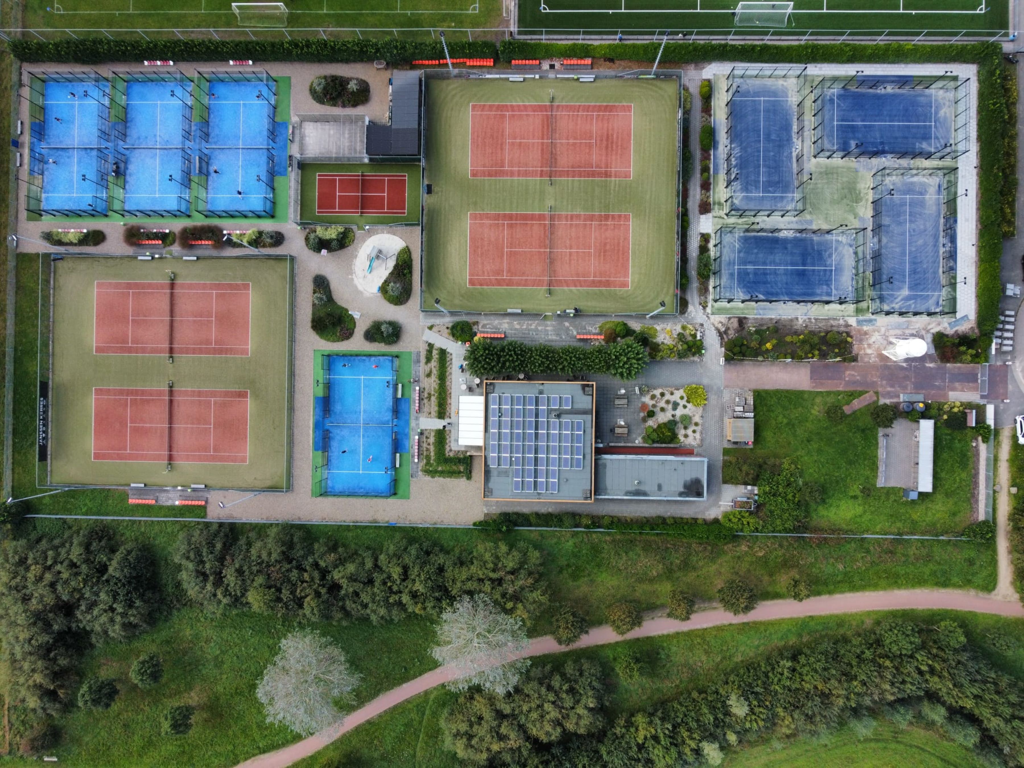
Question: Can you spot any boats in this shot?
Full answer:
No, this view has no boat in it.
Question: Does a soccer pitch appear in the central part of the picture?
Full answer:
No, I can find no soccer pitch in the central part of the picture.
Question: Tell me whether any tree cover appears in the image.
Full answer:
Yes, some tree cover is visible.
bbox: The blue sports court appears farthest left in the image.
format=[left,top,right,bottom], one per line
[13,70,111,217]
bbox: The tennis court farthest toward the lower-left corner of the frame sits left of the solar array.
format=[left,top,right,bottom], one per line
[92,382,249,469]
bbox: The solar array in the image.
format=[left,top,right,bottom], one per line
[490,394,584,492]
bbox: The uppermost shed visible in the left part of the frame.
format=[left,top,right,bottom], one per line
[366,71,421,159]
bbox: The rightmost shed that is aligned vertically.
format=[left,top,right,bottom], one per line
[909,420,934,492]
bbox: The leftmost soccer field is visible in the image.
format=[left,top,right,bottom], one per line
[22,0,510,40]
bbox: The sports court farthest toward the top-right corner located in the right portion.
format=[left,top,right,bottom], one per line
[813,67,970,160]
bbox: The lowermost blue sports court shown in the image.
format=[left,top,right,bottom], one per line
[312,354,398,498]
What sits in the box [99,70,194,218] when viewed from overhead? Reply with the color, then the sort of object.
blue sports court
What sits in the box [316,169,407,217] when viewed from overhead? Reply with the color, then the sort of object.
red tennis court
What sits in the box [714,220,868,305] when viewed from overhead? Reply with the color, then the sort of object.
blue sports court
